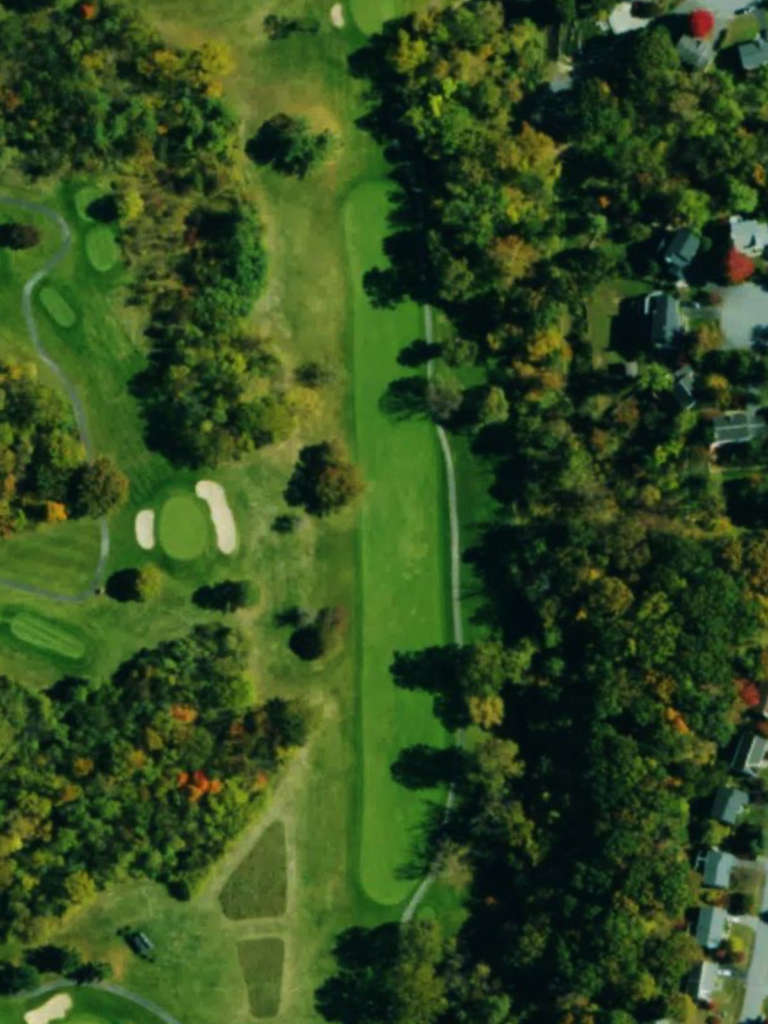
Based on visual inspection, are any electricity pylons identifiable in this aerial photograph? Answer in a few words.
No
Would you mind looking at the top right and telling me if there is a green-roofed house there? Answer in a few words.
Yes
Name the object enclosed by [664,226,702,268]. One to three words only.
house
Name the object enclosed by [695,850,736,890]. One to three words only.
house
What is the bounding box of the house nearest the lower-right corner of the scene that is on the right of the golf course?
[687,962,722,1003]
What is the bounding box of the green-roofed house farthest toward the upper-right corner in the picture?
[738,36,768,68]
